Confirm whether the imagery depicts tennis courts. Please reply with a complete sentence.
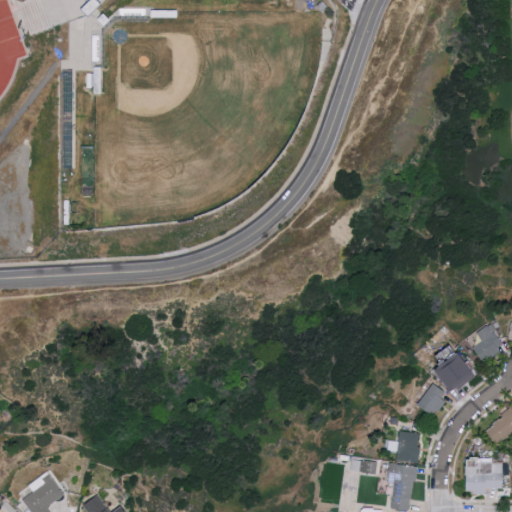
No, this view has no tennis court in it.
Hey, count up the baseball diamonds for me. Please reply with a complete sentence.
My tally gives 1 baseball diamond in this photo.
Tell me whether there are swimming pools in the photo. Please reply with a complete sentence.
No, there appears to be no swimming pool in this shot.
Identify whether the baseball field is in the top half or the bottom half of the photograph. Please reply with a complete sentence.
The baseball field is in the top half of the image.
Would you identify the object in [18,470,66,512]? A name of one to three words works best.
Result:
house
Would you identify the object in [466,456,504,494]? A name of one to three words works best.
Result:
house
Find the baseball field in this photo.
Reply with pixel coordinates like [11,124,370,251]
[97,12,322,228]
